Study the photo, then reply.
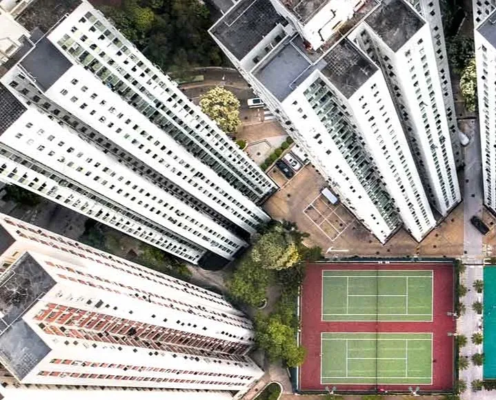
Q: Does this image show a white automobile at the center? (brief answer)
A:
Yes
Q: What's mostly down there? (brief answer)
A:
buildings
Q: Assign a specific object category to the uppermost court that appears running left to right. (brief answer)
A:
tennis court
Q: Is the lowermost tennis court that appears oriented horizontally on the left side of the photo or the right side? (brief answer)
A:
right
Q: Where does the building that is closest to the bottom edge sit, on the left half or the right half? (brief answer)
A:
left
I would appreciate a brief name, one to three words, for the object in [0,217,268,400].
building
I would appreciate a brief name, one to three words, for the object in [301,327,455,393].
tennis court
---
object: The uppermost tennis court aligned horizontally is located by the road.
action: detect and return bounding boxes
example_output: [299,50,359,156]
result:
[301,262,455,327]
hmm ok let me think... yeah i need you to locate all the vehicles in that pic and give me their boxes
[245,97,268,109]
[276,160,295,179]
[470,216,490,235]
[320,186,341,207]
[285,153,303,173]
